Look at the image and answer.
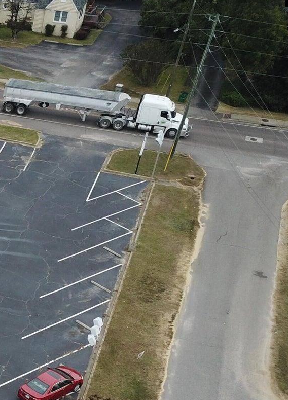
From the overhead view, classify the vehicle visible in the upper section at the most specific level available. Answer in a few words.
truck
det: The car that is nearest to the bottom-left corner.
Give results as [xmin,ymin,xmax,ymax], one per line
[18,365,89,400]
